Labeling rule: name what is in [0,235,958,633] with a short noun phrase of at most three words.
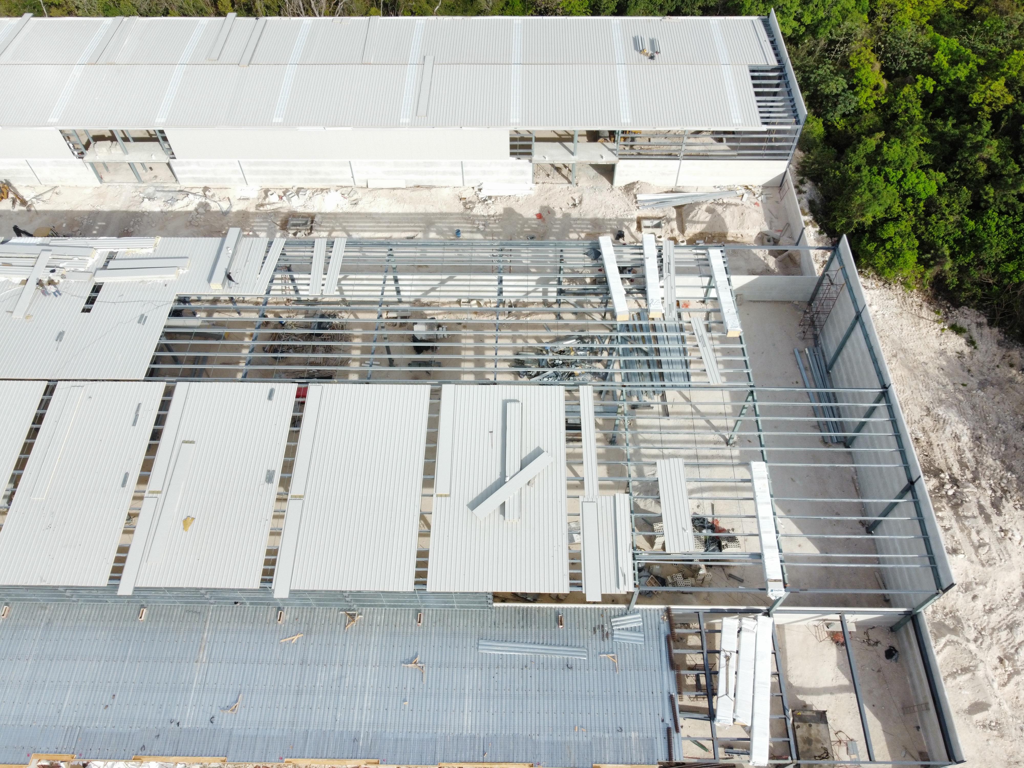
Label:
warehouse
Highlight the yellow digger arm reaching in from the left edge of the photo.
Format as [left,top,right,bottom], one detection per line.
[0,180,24,209]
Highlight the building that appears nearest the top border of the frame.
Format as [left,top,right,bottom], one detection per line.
[0,8,809,188]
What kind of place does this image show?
industrial area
